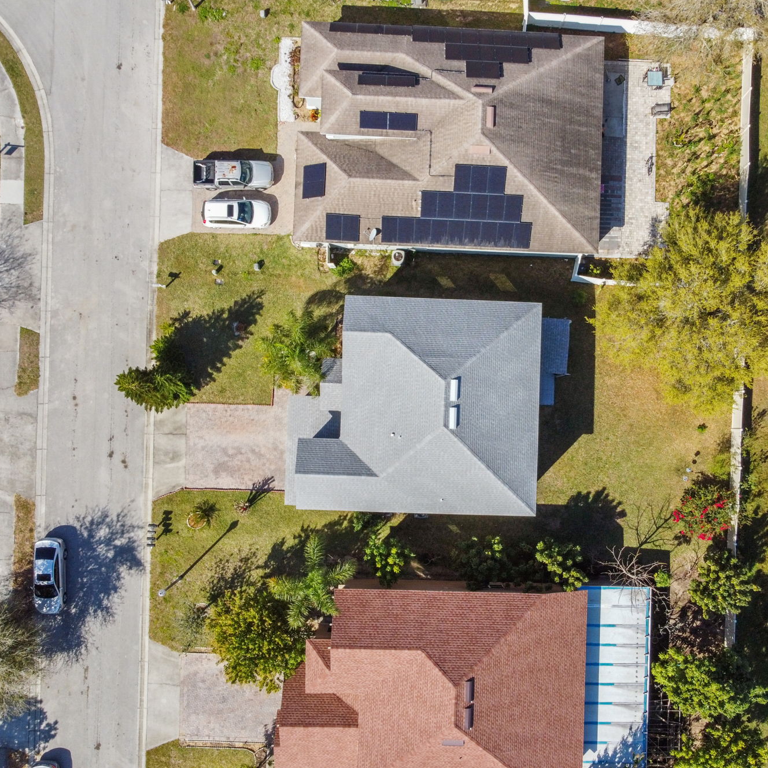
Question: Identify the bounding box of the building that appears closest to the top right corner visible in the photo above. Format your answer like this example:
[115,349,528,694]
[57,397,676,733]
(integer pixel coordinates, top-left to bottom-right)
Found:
[289,21,605,258]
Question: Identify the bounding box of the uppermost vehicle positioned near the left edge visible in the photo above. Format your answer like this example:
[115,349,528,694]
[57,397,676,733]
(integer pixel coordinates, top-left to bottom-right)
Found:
[31,536,72,612]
